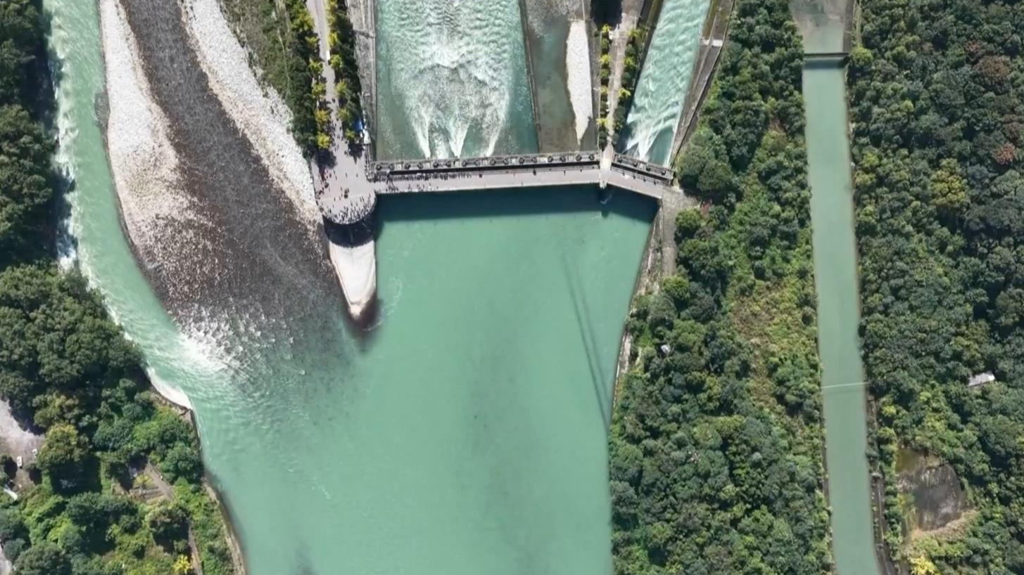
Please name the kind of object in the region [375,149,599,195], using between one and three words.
bridge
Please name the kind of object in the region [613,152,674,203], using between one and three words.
bridge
